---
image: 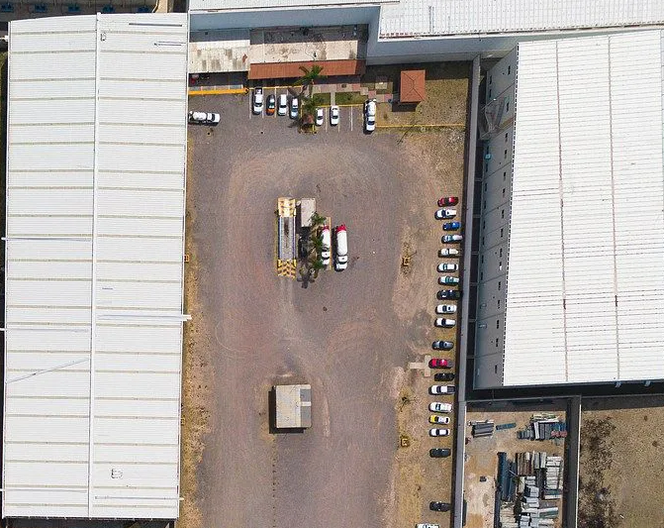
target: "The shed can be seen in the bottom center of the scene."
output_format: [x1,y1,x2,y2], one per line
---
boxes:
[272,384,311,428]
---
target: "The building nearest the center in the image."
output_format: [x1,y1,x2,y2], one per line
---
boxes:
[297,200,315,230]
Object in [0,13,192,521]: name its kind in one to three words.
warehouse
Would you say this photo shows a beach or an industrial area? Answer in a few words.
industrial area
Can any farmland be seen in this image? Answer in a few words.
No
